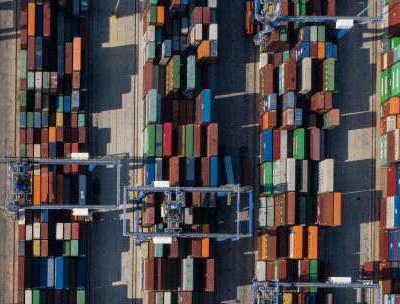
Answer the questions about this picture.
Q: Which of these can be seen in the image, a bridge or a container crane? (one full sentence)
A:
Visible in the photo is a container crane.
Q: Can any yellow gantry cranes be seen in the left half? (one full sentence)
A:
No, in the left half there is no yellow gantry crane.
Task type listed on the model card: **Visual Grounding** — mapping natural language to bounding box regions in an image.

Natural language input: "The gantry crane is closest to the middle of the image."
[123,177,252,250]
